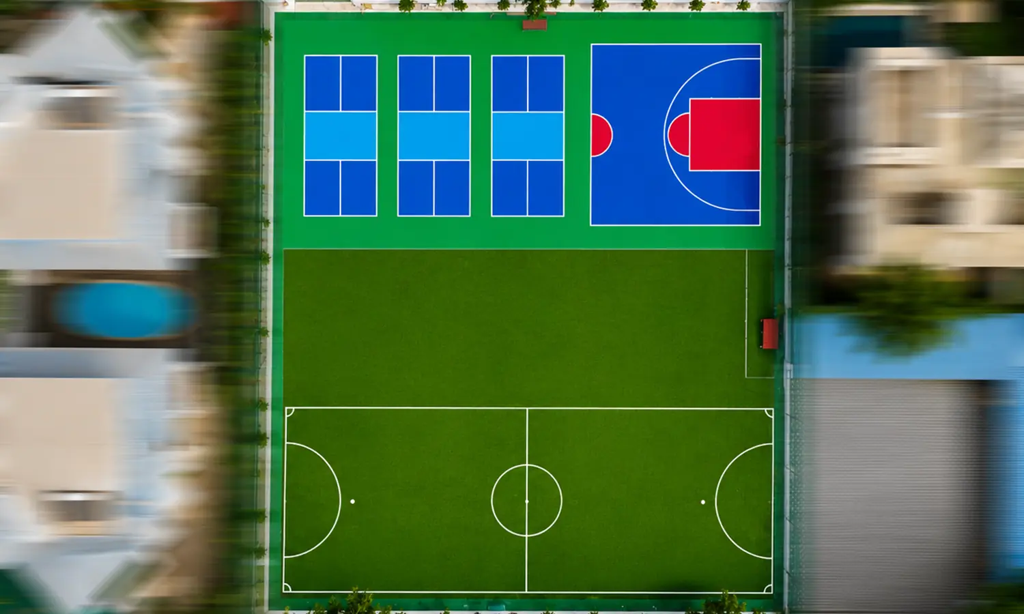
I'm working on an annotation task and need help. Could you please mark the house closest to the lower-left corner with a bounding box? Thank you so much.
[0,348,199,610]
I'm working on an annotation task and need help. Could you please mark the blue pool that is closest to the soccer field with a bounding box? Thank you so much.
[51,279,197,339]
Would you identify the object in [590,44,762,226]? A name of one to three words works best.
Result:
basketball court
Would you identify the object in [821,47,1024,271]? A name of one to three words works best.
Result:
house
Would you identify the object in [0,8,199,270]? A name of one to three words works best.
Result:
house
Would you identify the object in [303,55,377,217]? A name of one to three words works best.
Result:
sports court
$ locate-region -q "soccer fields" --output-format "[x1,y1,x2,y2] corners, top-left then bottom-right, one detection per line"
[283,407,774,594]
